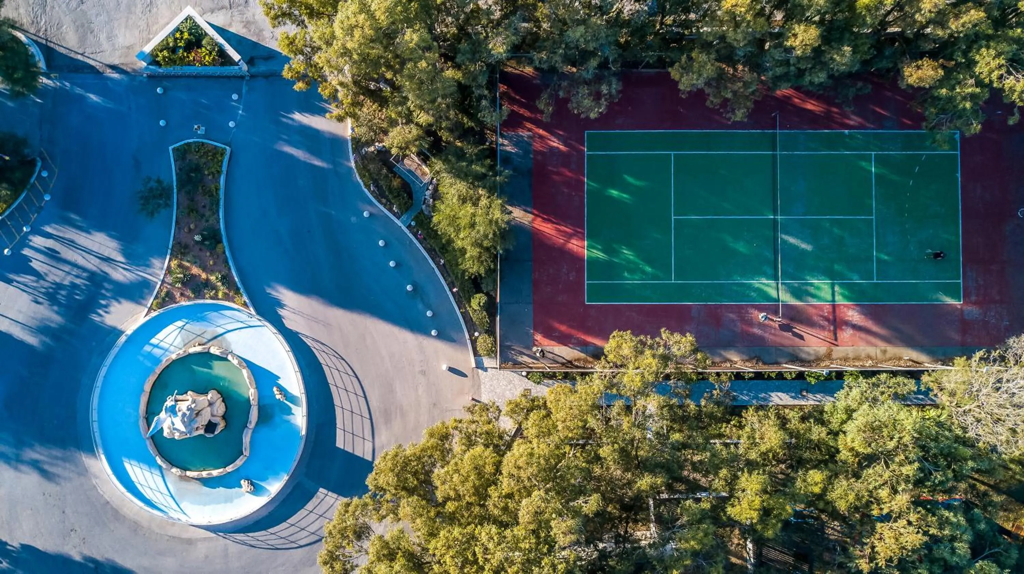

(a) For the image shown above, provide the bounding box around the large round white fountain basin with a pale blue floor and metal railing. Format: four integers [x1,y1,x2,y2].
[86,297,321,533]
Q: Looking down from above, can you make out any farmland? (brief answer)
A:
No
